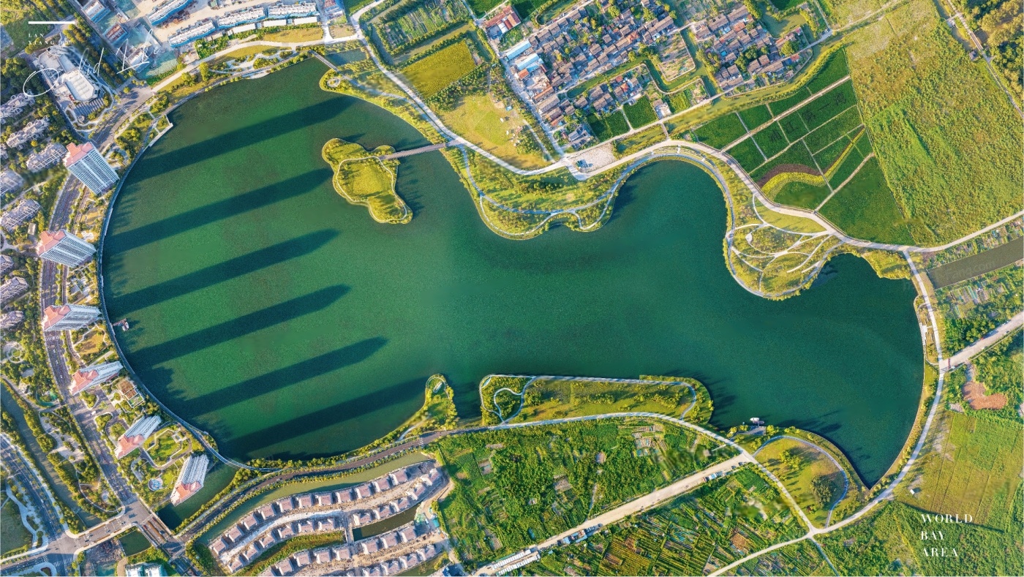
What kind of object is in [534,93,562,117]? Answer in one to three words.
house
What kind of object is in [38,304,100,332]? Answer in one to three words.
building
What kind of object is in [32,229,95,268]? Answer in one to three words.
building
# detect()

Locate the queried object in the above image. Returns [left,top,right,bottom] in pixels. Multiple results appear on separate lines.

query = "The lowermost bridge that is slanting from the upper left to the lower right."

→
[140,509,183,553]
